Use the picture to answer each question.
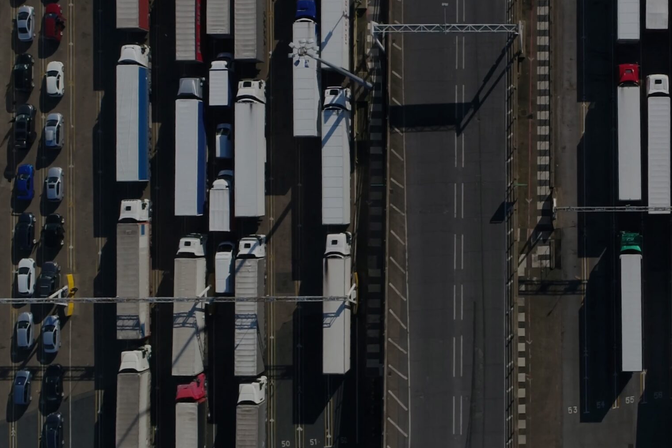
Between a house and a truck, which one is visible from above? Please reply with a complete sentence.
It is a truck that can be seen here.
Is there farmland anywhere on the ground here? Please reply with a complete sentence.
No, no farmland is visible.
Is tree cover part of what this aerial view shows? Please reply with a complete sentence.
No, tree cover can't be seen anywhere here.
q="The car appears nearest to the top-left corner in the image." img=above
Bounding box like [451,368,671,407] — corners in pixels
[15,6,36,41]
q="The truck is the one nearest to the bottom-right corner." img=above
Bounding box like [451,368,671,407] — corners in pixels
[617,227,643,372]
